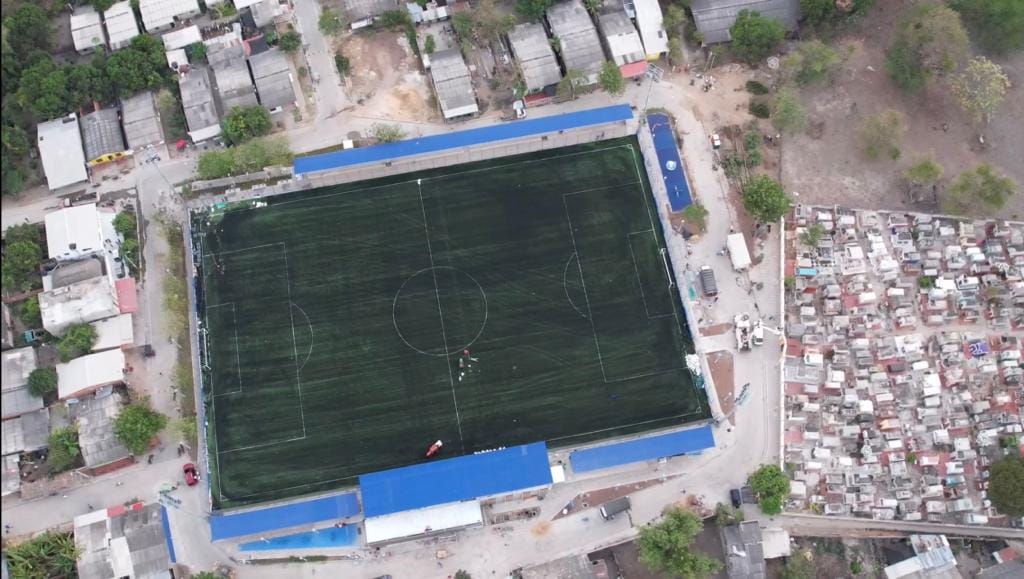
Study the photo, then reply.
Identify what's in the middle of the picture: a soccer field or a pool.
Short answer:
soccer field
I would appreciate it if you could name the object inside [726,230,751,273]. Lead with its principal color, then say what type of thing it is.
white truck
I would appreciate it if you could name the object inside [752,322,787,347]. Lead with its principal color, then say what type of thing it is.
white truck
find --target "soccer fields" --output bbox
[191,135,713,514]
